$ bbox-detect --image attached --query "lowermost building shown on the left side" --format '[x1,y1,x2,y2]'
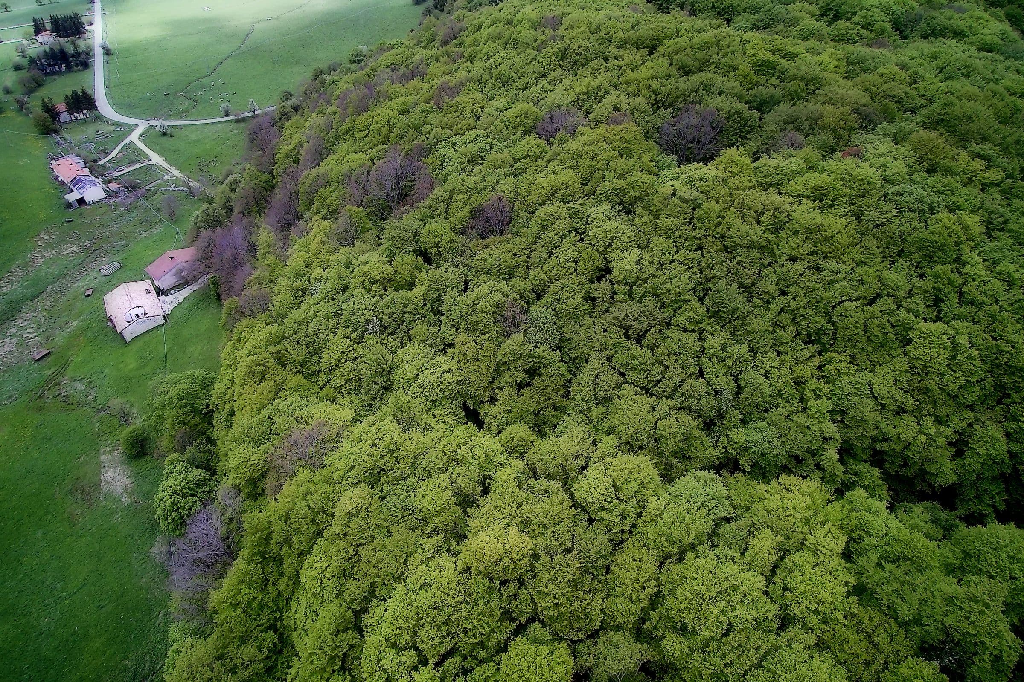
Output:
[104,282,168,342]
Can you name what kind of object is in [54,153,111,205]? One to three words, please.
house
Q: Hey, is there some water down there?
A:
No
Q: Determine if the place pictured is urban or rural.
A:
rural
